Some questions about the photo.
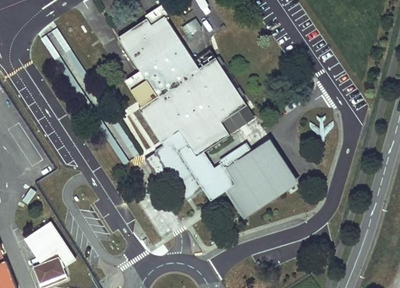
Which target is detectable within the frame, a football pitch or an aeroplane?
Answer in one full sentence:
The one in the frame is an aeroplane.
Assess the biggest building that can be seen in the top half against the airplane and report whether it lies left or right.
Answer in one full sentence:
Looking at the photo, the biggest building that can be seen in the top half lies to the left of the airplane.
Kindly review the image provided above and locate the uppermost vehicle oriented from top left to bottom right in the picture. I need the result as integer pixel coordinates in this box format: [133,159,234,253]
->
[197,0,210,15]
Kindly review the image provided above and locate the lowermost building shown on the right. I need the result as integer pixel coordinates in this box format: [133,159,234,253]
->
[218,139,298,218]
